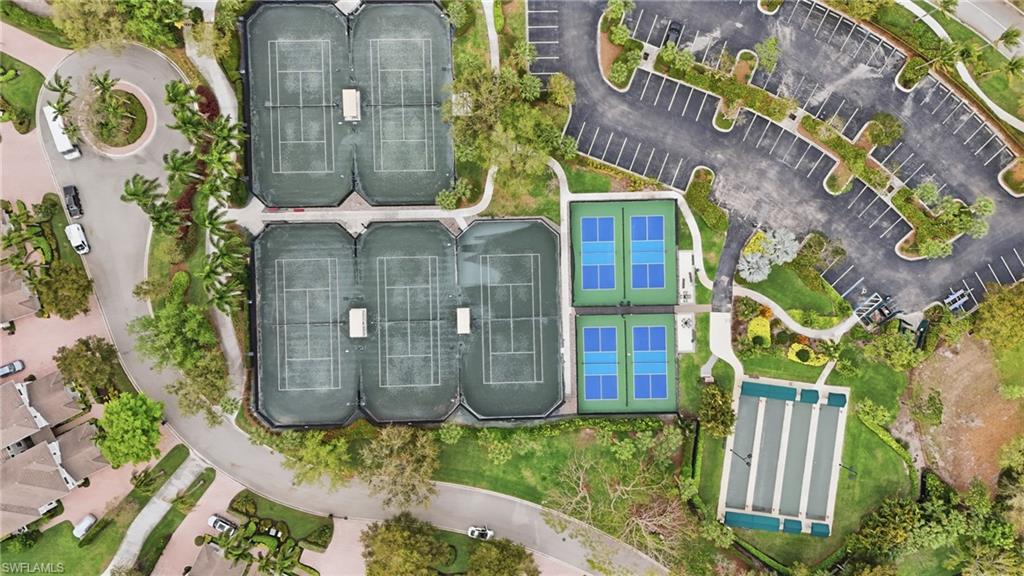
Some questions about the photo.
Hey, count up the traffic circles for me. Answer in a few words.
one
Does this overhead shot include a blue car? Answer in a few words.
No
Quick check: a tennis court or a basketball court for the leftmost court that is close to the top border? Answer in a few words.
tennis court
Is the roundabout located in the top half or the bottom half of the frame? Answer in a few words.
top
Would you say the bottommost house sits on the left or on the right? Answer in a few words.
left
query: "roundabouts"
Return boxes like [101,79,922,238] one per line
[34,37,193,193]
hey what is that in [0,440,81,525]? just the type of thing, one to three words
house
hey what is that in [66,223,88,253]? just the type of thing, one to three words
vehicle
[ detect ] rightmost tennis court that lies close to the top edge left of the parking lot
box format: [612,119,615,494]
[349,2,455,202]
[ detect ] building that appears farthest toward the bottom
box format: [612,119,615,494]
[191,542,252,576]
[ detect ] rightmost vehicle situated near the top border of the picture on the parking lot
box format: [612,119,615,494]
[663,20,679,47]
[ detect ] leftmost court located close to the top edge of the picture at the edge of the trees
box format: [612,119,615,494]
[249,4,353,203]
